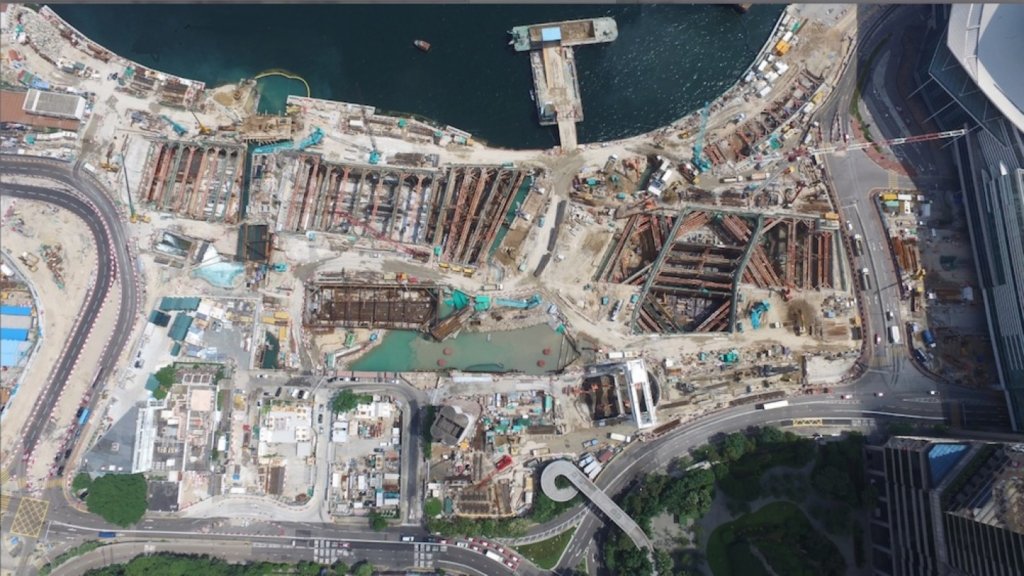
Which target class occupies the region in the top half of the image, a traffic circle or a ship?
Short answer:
ship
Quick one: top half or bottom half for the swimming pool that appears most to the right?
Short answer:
bottom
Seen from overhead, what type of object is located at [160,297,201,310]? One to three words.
shed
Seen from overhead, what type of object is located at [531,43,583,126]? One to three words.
ship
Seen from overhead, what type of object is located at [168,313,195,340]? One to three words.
shed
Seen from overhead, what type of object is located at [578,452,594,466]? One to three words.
vehicle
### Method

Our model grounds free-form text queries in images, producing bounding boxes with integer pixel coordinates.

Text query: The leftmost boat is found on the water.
[415,39,430,52]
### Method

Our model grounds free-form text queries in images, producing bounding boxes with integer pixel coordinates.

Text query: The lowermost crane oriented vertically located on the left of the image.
[120,155,145,227]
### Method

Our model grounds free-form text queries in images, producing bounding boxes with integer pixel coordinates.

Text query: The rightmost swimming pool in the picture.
[934,445,968,483]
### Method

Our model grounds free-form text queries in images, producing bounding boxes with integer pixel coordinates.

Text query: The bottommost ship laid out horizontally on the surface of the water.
[508,17,619,54]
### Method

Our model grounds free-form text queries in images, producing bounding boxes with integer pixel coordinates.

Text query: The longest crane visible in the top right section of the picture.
[737,128,968,178]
